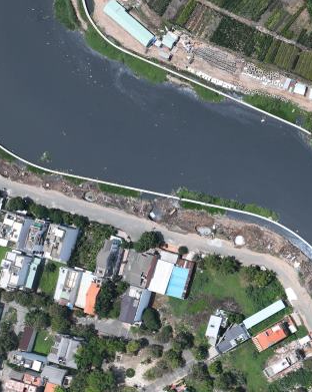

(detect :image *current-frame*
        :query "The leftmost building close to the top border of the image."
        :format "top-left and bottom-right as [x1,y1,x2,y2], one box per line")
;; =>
[104,0,159,51]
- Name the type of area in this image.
residential area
